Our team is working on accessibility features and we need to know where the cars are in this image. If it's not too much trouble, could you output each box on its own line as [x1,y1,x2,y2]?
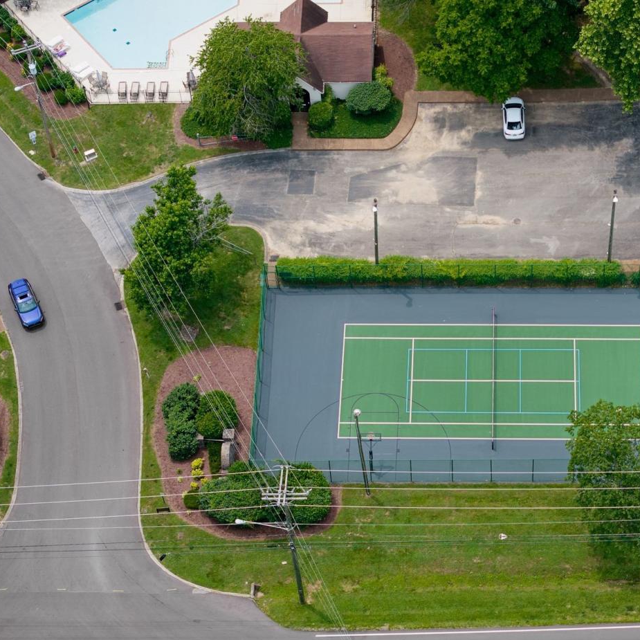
[501,98,526,142]
[8,279,45,331]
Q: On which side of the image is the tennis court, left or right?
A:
right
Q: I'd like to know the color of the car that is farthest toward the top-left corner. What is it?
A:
blue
